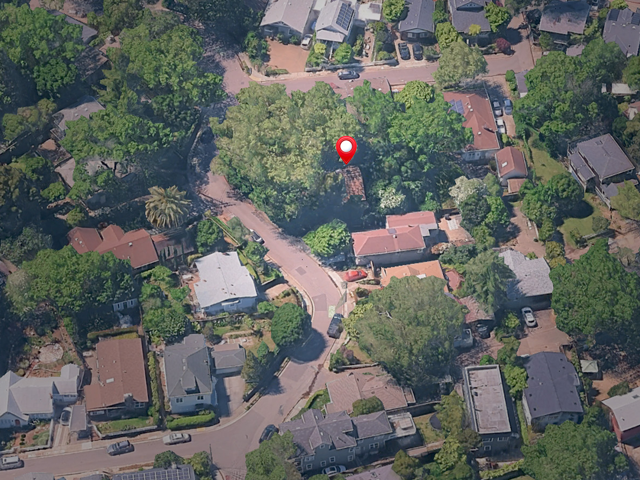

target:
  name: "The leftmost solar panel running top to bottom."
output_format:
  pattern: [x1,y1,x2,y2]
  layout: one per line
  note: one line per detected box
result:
[339,2,354,29]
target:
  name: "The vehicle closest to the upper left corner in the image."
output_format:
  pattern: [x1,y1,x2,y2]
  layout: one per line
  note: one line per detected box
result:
[300,32,313,50]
